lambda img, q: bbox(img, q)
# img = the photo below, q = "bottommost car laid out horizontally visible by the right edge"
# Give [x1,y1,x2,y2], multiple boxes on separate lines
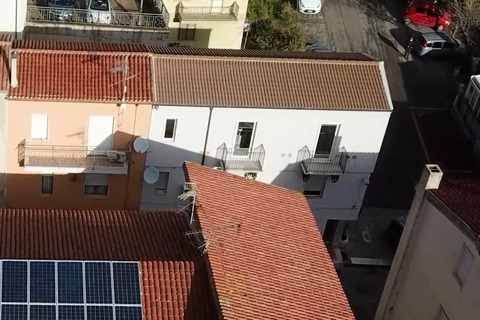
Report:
[413,29,475,58]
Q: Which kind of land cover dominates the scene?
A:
buildings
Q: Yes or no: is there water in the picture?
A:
No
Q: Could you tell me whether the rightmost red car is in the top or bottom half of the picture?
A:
top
